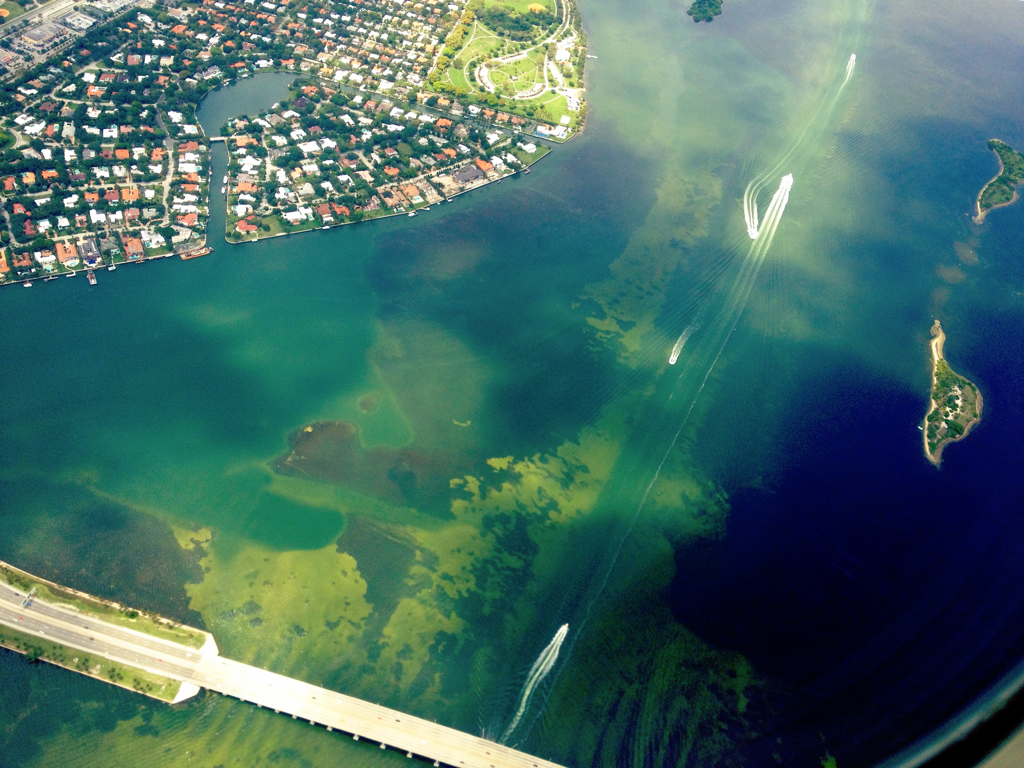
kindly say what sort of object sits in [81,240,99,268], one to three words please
house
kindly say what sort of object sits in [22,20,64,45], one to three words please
building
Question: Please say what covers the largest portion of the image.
water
